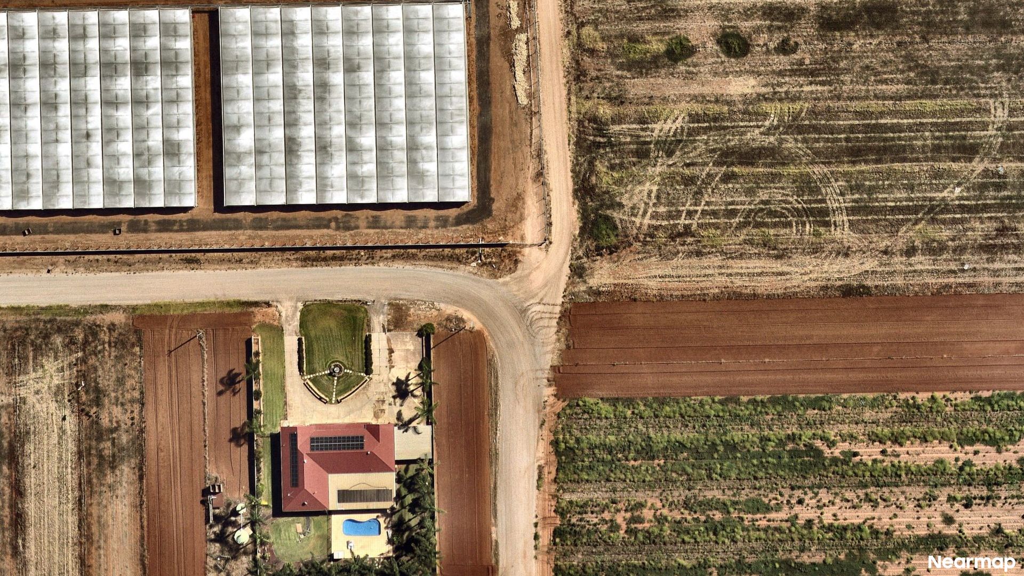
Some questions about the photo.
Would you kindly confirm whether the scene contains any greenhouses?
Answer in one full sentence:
Yes, a greenhouse is visible in the scene.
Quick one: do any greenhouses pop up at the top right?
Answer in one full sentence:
No, I can find no greenhouse at the top right.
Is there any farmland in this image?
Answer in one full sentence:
Yes, farmland can be seen from above here.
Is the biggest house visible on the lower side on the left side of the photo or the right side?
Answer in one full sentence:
The biggest house visible on the lower side appears in the left half of the scene.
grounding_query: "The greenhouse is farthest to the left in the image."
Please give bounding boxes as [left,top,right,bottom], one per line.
[0,7,196,210]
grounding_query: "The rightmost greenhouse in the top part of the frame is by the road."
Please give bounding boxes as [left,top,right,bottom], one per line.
[219,3,471,207]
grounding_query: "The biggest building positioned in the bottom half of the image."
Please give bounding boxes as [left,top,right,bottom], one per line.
[280,424,395,512]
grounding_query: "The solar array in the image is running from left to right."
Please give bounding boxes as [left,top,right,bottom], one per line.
[310,435,364,450]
